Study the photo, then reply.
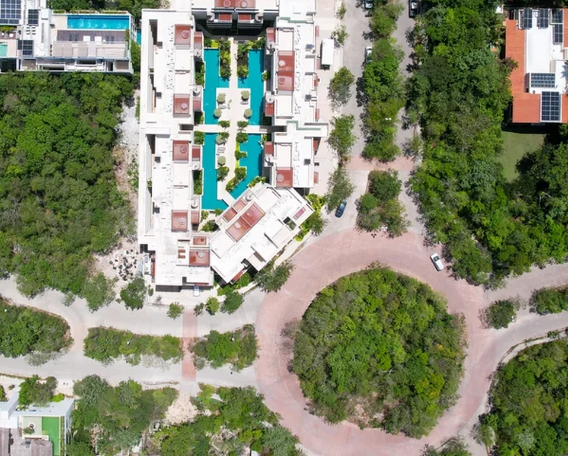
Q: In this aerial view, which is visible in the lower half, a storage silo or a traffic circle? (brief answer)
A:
traffic circle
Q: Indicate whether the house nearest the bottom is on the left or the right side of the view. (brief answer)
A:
left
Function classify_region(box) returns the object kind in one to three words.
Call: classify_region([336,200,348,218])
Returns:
vehicle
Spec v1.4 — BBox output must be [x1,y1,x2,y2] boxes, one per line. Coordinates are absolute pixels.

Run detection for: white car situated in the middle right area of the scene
[429,251,444,271]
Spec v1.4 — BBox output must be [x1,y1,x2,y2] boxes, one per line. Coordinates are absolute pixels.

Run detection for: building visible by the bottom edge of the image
[0,385,73,456]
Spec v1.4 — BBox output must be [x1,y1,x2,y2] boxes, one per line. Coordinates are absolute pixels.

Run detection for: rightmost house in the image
[498,9,568,122]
